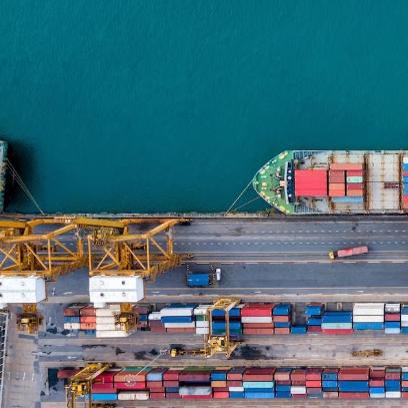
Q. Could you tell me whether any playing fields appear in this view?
No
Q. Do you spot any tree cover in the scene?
No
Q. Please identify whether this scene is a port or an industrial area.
port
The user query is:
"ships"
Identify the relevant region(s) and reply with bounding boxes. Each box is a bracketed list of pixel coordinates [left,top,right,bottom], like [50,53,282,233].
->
[252,149,408,216]
[0,142,10,210]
